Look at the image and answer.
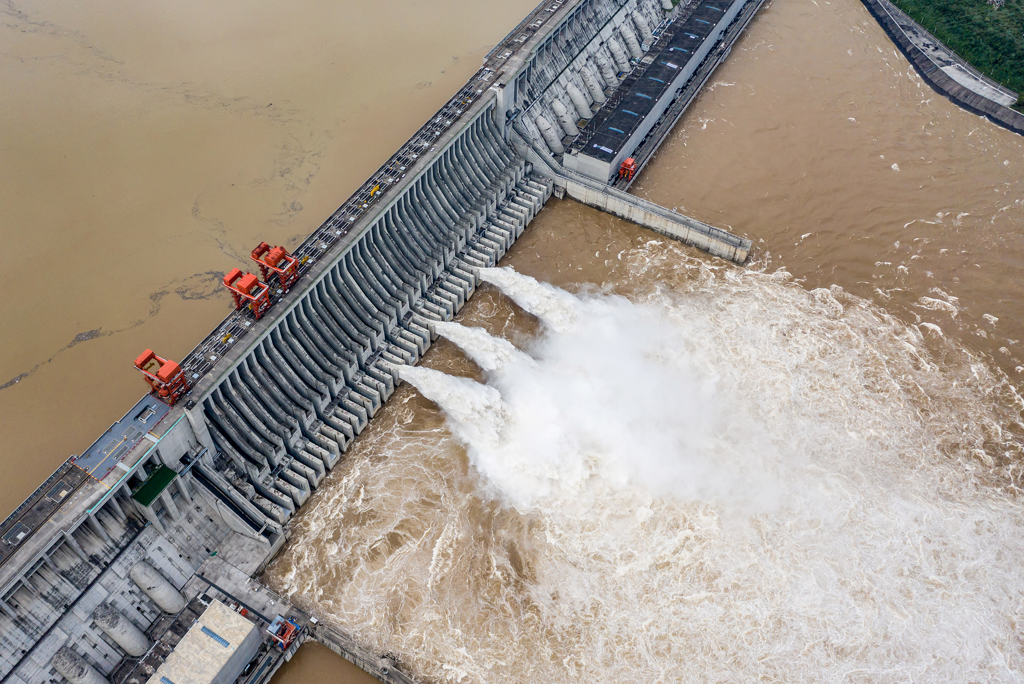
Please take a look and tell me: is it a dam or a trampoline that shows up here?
dam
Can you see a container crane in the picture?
Yes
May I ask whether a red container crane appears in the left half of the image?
Yes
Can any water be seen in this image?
Yes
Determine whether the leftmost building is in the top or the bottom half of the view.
bottom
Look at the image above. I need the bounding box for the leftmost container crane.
[130,349,189,407]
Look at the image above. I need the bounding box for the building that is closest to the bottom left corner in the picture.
[125,593,263,684]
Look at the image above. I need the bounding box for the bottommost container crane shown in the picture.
[265,616,306,654]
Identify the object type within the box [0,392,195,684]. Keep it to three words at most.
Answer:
dam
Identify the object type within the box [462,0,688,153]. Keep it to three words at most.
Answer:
dam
